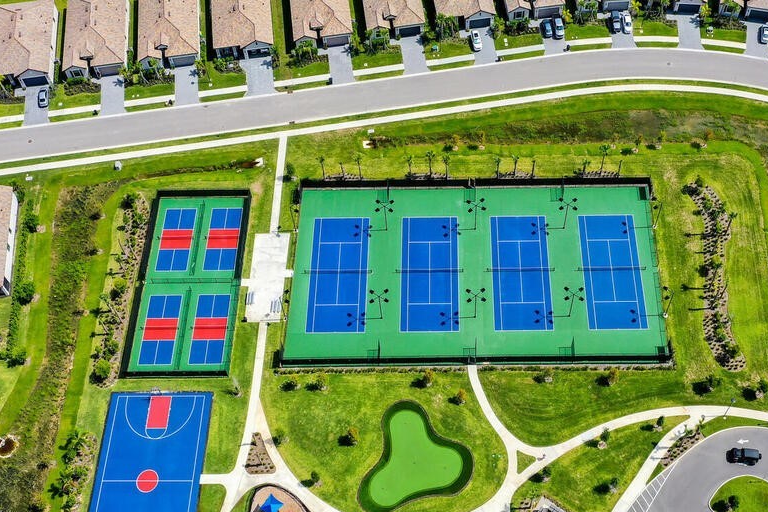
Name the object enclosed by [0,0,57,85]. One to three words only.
house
